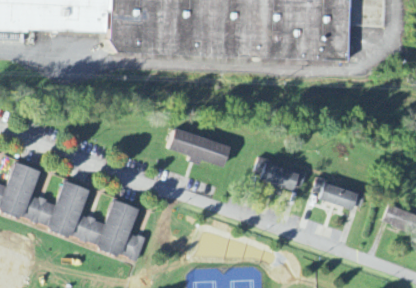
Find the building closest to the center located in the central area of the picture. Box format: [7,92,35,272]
[166,129,231,168]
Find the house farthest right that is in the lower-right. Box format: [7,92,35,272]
[381,206,416,232]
